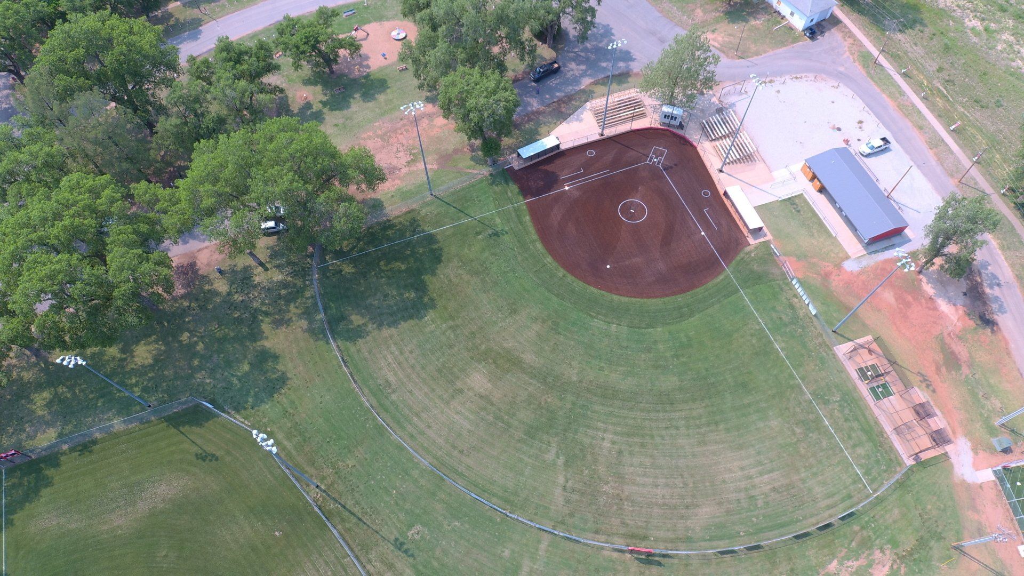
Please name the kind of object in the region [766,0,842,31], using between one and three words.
house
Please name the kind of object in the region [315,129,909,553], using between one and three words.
baseball field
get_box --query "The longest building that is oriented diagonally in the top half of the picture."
[805,147,908,247]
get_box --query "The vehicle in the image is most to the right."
[859,138,893,157]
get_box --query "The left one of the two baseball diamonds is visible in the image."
[0,401,362,576]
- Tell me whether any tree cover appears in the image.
Yes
